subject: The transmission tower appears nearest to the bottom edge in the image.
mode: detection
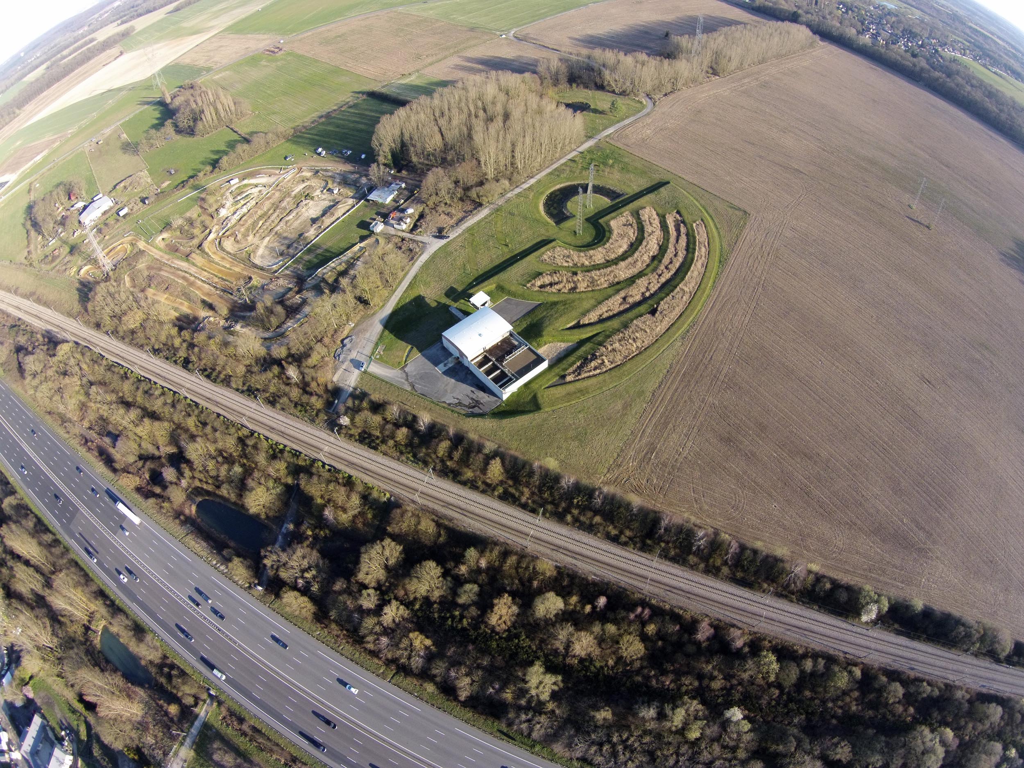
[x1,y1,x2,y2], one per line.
[78,224,114,279]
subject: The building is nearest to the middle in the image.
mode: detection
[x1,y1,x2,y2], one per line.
[442,305,548,399]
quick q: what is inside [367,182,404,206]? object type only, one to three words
building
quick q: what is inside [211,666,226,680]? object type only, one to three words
vehicle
